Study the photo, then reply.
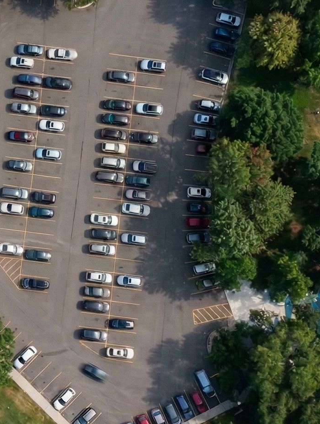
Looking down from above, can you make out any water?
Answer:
No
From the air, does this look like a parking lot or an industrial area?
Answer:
parking lot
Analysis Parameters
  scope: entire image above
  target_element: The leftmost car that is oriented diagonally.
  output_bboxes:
[14,345,36,369]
